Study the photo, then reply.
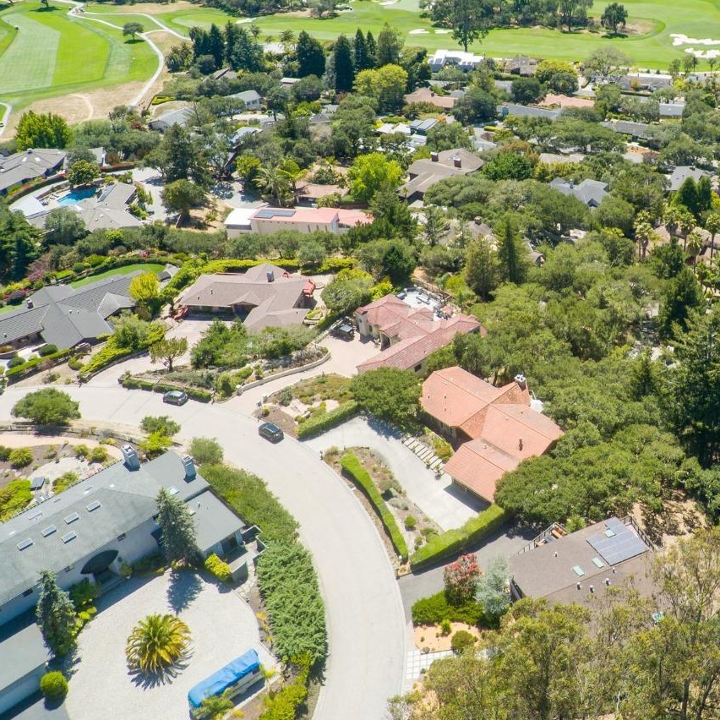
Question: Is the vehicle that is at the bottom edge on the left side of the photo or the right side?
left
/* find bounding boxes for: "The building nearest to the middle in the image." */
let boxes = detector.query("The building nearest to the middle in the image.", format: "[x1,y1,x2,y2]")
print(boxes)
[358,283,481,378]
